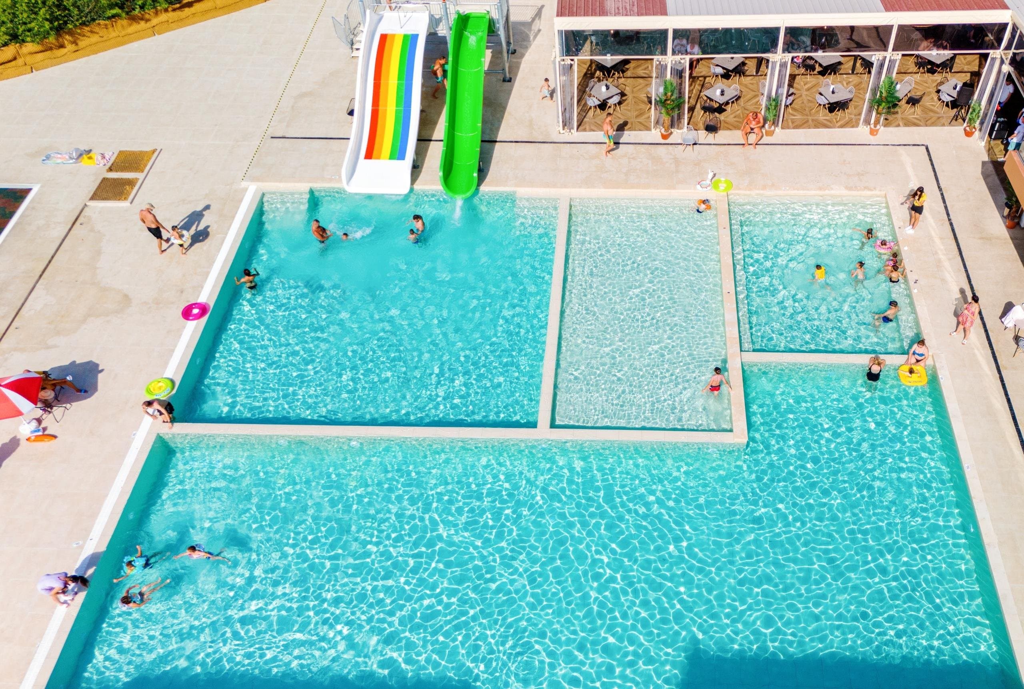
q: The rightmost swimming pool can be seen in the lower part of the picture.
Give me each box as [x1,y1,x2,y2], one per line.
[47,188,1018,689]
